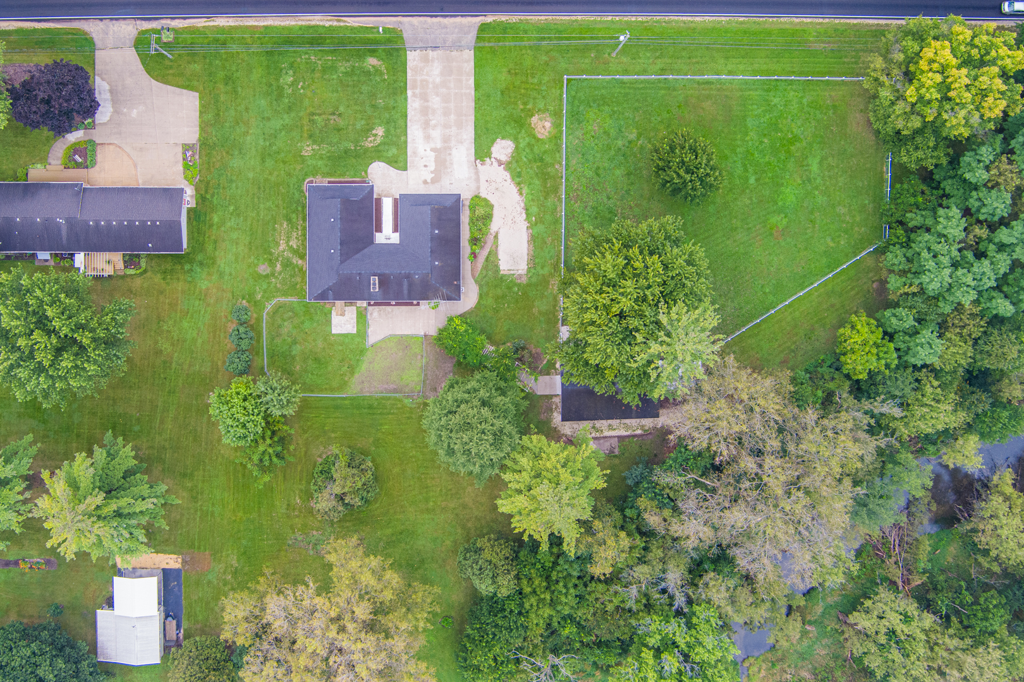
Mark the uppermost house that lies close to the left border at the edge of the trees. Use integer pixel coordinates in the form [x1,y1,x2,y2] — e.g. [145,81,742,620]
[0,182,187,253]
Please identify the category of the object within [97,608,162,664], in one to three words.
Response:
shed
